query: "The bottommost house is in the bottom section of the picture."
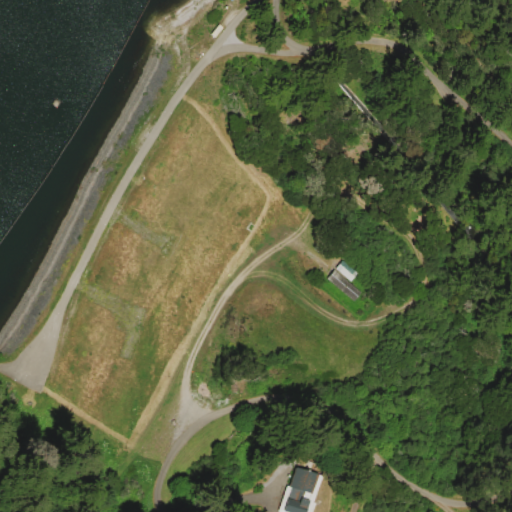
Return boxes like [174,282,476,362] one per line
[279,466,324,512]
